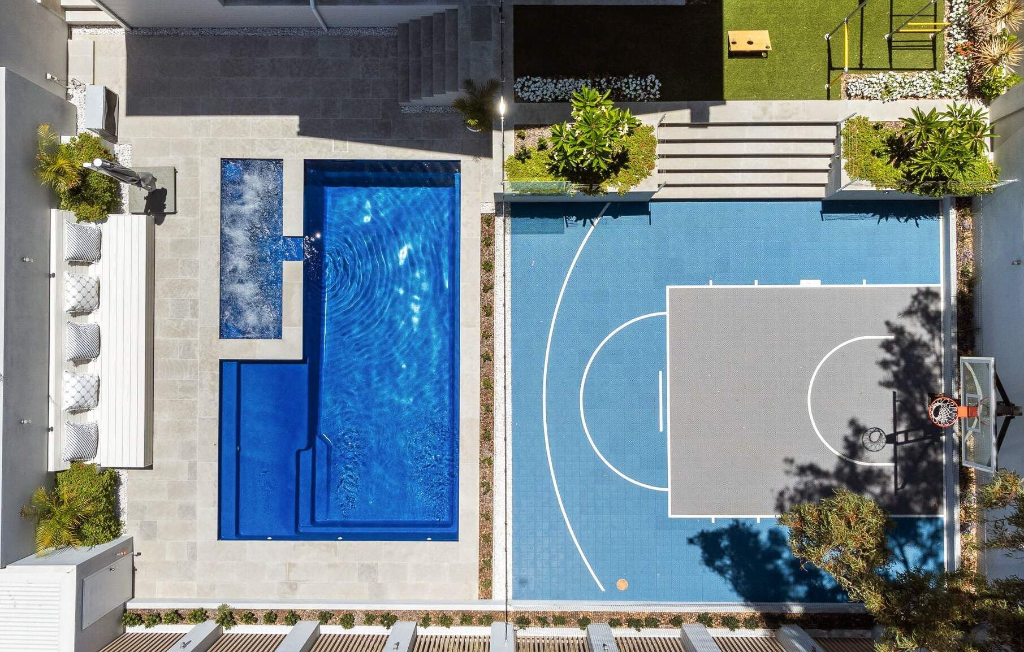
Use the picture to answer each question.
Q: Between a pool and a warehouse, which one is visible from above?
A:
pool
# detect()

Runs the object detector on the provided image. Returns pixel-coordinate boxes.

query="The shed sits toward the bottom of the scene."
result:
[4,537,134,652]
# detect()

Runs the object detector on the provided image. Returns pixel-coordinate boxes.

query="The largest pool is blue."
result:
[221,160,460,540]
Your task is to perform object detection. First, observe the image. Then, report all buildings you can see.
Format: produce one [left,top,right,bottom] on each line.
[89,0,243,32]
[4,537,134,652]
